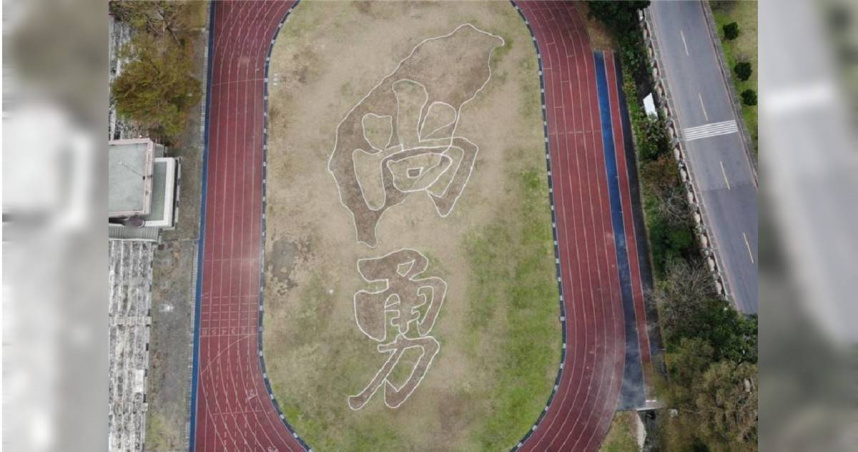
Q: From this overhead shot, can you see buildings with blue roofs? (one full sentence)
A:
No, there appears to be no building with a blue roof in this shot.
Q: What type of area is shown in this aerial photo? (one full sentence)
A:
The area seen from above is a sports ground.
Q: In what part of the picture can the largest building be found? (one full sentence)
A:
The largest building sits in the left section of the image.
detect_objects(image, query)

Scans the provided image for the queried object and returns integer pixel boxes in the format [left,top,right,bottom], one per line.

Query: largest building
[12,140,183,245]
